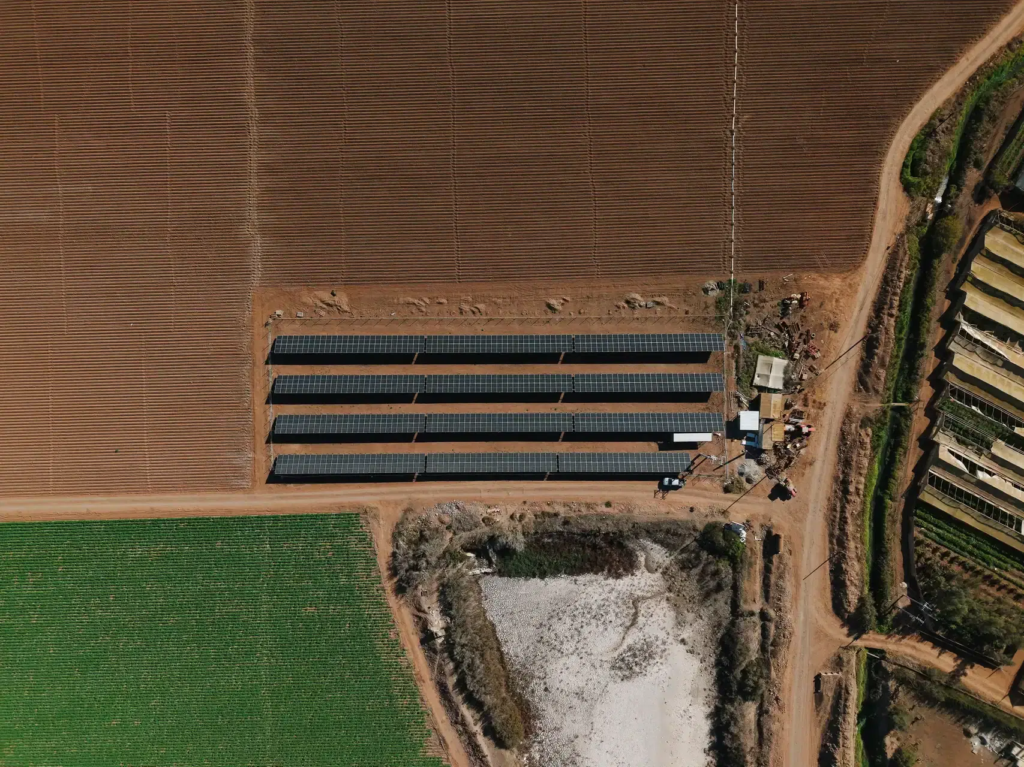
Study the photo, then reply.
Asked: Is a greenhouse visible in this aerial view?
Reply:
Yes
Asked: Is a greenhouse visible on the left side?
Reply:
No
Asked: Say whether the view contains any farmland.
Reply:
Yes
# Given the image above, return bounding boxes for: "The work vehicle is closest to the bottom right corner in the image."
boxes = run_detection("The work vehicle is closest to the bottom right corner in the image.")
[780,476,797,496]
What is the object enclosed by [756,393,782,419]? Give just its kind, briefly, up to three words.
shed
